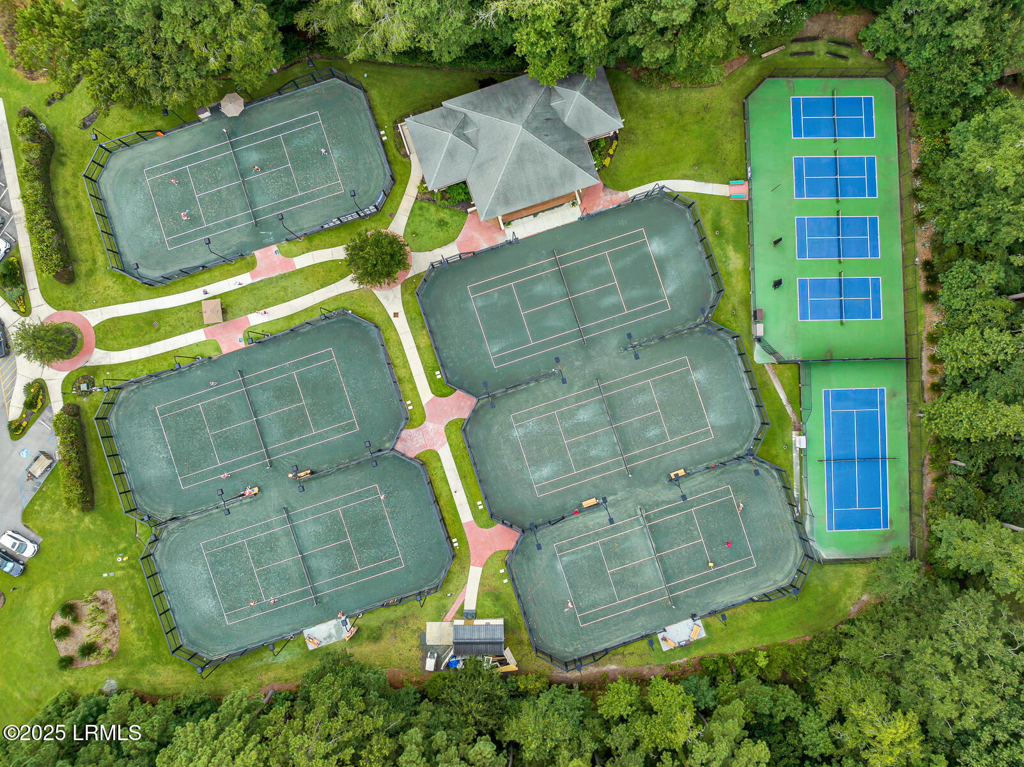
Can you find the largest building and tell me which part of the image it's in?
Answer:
top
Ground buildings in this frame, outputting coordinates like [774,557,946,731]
[396,55,627,230]
[451,618,504,656]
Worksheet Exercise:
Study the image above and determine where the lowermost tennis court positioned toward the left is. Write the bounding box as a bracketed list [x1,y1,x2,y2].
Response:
[153,452,453,658]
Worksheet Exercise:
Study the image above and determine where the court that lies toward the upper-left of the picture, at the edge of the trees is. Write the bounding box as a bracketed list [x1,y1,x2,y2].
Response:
[98,79,392,284]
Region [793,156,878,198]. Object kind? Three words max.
tennis court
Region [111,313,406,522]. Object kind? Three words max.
tennis court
